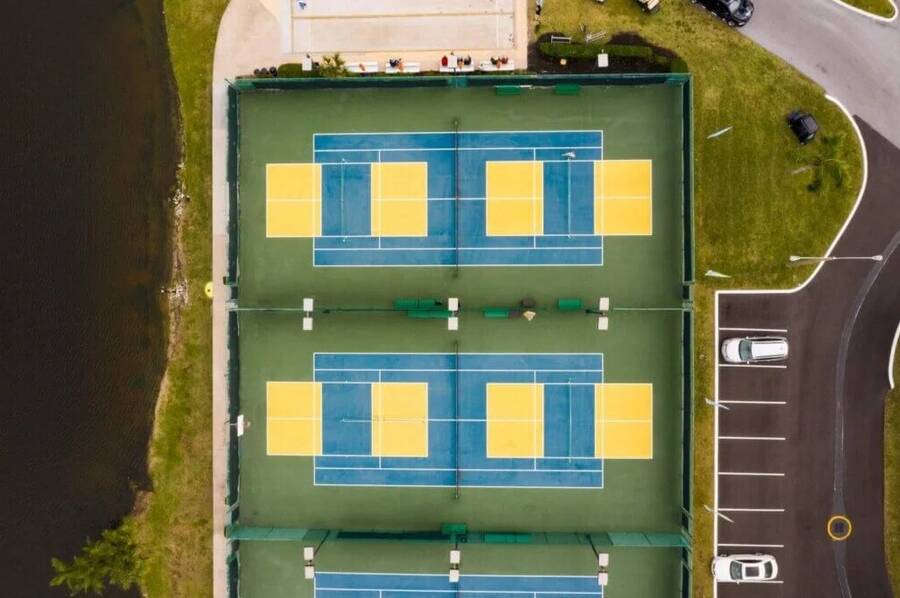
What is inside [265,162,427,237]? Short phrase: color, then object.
yellow sports court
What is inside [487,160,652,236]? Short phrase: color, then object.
yellow sports court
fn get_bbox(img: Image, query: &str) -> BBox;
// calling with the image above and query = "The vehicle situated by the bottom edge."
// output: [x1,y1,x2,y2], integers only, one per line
[712,553,778,584]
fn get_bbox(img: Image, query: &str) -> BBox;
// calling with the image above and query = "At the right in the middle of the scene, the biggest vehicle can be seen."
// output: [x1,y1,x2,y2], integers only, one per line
[720,335,789,365]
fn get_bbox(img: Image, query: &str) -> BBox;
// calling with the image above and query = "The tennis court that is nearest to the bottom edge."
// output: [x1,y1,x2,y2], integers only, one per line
[242,530,684,598]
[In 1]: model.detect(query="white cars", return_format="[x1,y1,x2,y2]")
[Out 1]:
[712,553,778,584]
[720,335,789,365]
